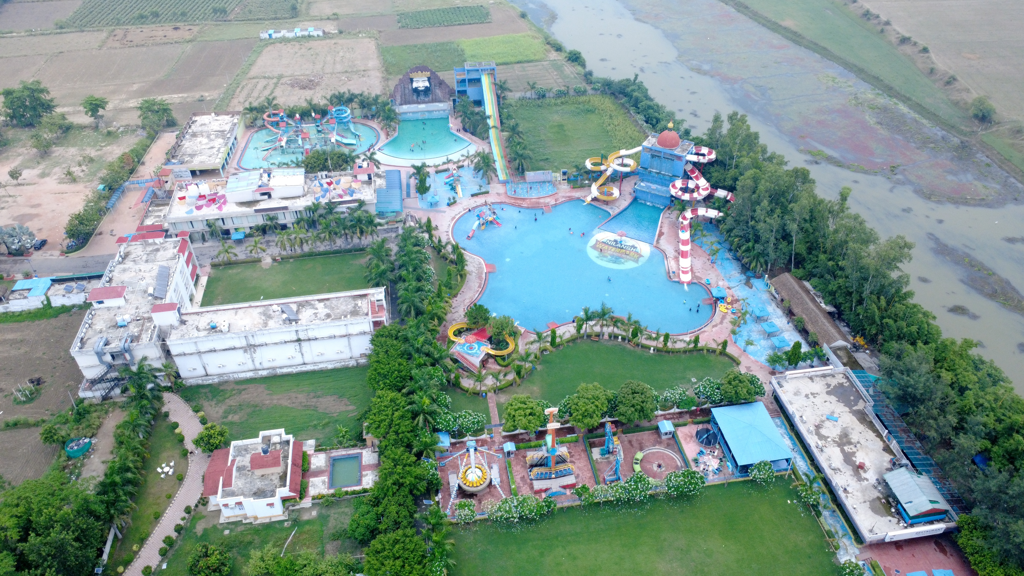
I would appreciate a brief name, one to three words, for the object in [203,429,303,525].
house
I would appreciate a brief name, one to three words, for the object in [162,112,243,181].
building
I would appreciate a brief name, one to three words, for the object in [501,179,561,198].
swimming pool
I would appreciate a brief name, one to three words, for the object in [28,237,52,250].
vehicle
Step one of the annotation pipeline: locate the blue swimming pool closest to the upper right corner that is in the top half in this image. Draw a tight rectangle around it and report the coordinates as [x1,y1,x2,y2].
[595,195,673,245]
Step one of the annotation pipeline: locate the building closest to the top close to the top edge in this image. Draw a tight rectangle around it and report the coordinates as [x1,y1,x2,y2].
[260,27,326,41]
